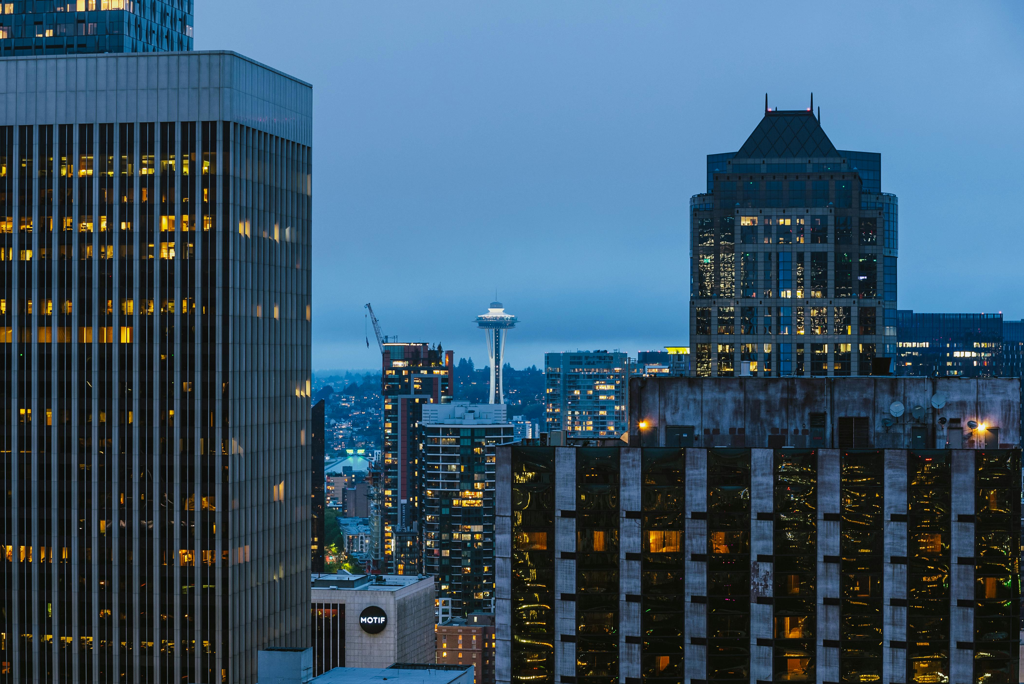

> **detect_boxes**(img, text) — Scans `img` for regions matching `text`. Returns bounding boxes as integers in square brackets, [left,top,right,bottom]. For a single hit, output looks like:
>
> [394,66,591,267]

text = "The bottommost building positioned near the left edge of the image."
[0,50,315,684]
